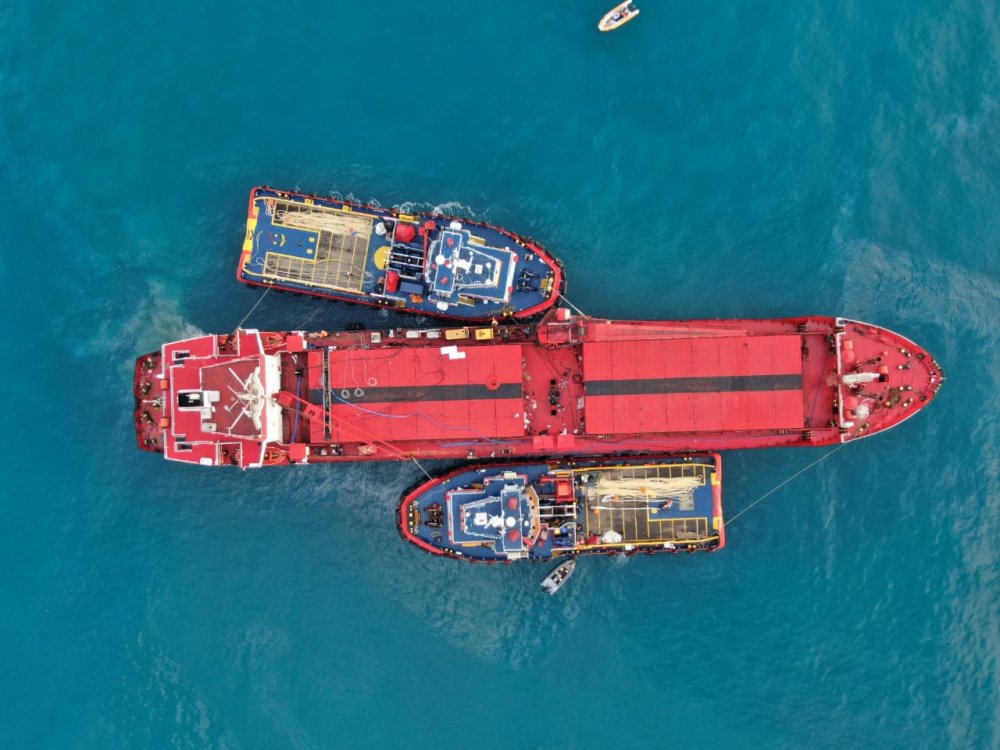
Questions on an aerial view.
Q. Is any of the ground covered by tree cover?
No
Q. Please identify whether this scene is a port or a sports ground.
port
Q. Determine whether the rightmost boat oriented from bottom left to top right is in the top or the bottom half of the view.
top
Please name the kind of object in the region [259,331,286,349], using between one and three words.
boat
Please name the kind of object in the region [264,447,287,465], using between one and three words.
boat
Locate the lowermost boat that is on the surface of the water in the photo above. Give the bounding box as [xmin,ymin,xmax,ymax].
[538,559,577,596]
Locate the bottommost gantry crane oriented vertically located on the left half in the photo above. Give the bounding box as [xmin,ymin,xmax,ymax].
[322,344,340,441]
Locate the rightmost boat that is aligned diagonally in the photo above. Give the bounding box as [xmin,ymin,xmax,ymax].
[599,0,641,30]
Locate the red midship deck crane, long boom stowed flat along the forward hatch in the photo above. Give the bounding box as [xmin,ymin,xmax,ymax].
[536,309,754,348]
